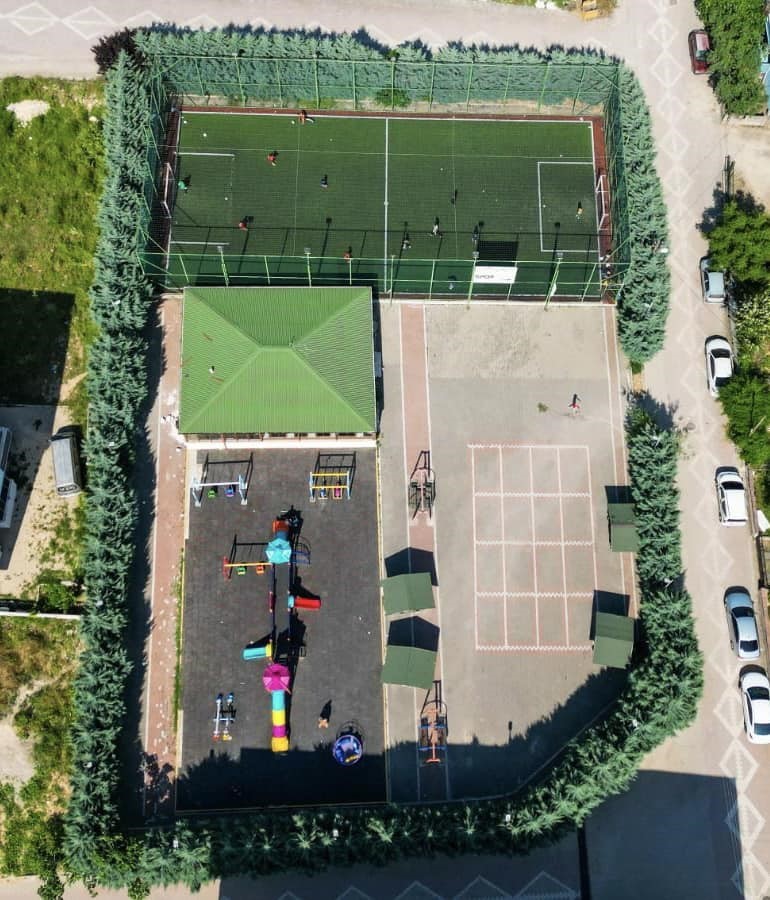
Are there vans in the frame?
Yes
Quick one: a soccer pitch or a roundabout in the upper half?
soccer pitch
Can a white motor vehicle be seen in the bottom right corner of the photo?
Yes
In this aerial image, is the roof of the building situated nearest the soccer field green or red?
green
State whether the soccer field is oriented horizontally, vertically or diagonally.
horizontally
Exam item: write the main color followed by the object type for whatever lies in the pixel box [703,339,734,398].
white car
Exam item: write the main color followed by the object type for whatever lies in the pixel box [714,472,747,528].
white car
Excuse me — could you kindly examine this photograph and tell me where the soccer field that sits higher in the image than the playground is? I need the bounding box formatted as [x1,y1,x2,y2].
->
[148,105,616,302]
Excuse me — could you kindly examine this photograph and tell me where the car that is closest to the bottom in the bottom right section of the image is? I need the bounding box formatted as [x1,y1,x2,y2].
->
[738,674,770,744]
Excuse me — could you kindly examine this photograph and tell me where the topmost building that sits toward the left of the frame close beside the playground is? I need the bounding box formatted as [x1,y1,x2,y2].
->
[175,286,382,448]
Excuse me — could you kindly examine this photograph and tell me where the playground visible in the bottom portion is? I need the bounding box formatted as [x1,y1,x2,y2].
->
[222,514,324,752]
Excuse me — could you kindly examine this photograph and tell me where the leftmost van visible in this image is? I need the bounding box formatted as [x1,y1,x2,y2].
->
[47,435,84,503]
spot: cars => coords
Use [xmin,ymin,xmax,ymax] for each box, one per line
[714,472,747,528]
[703,339,734,398]
[724,594,761,662]
[686,29,712,76]
[697,257,726,307]
[738,674,770,744]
